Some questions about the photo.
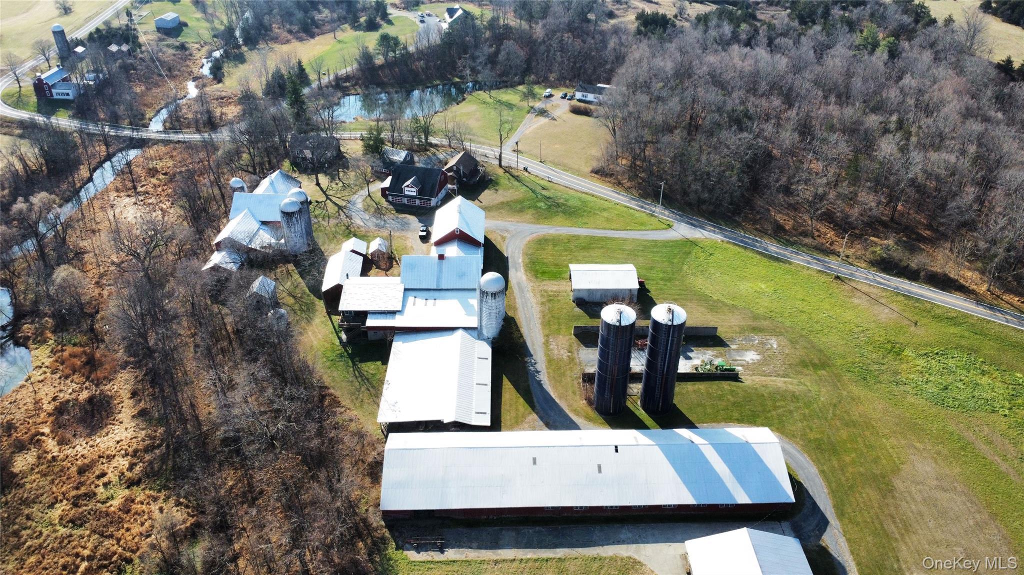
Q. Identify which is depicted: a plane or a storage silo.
storage silo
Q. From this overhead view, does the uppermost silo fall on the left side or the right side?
left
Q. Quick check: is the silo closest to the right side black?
Yes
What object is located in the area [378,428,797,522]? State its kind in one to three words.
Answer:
barn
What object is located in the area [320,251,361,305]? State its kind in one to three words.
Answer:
shed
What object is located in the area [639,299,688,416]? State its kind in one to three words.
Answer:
silo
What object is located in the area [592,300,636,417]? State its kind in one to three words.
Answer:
silo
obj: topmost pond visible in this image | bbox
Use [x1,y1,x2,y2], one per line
[325,80,512,126]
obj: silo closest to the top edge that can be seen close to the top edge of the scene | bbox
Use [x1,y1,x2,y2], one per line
[52,19,77,58]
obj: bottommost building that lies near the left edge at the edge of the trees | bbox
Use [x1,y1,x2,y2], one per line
[30,64,81,100]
